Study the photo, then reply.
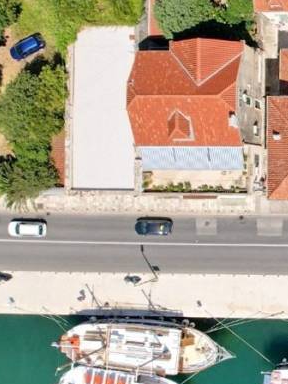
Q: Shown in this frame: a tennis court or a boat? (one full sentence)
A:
Visible in the photo is a boat.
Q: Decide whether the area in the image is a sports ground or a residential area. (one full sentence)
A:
This image shows a residential area.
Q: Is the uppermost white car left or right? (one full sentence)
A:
The uppermost white car appears in the left half of the scene.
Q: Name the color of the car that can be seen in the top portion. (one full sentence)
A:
From above, the car that can be seen in the top portion appears blue.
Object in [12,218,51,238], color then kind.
white car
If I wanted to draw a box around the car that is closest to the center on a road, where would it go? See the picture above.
[137,217,175,236]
